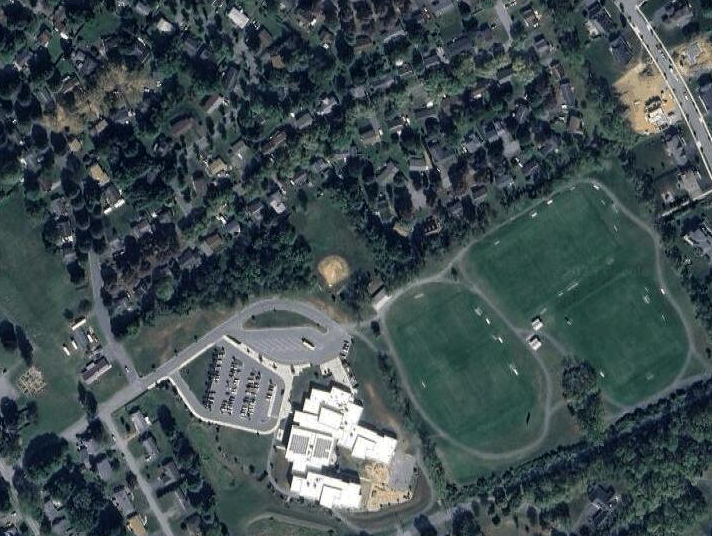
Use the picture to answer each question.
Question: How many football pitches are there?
three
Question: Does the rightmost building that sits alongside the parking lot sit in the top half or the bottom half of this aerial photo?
bottom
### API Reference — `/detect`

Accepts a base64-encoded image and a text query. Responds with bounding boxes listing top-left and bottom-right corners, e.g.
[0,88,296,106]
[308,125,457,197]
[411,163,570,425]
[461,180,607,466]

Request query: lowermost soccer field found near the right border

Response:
[539,265,686,398]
